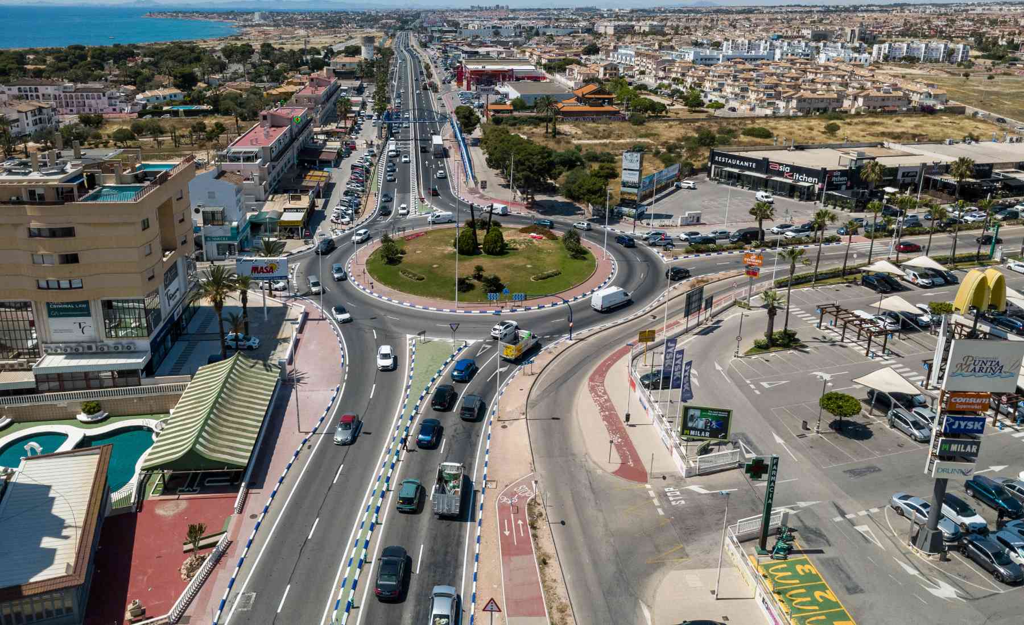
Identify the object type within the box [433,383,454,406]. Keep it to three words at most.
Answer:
car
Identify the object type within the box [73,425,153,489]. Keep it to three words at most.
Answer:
swimming pool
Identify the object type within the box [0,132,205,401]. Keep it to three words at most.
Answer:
building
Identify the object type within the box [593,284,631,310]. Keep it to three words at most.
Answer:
vehicle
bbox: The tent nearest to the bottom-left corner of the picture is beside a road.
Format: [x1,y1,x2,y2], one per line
[140,353,282,502]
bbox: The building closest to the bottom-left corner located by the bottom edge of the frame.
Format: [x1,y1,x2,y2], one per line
[0,446,113,625]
